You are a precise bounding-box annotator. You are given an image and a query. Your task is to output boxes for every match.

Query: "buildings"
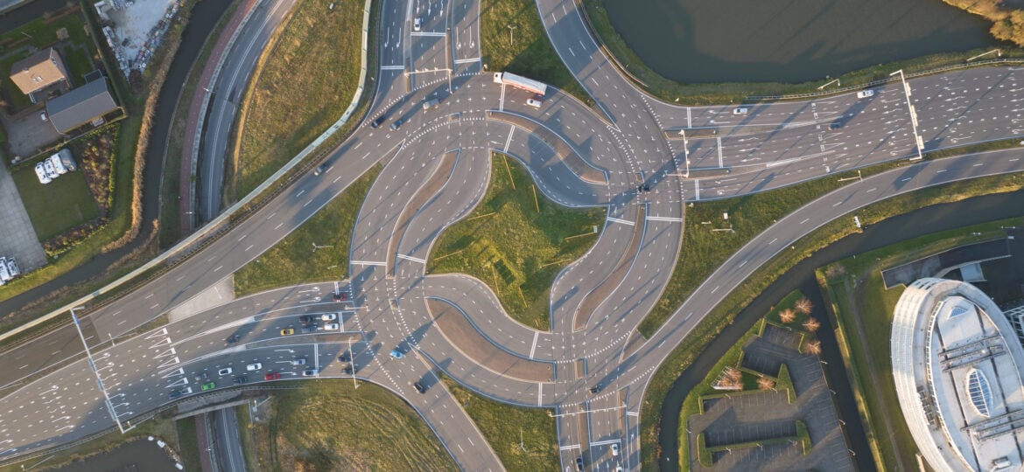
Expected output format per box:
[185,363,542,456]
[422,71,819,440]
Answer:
[890,277,1024,472]
[45,77,117,134]
[10,47,69,95]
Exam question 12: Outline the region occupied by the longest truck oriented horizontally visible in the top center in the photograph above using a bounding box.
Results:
[493,70,548,93]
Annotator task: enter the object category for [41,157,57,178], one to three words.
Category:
camper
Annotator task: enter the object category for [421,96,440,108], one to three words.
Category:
vehicle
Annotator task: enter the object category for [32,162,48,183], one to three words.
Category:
camper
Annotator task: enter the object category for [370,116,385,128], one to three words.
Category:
vehicle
